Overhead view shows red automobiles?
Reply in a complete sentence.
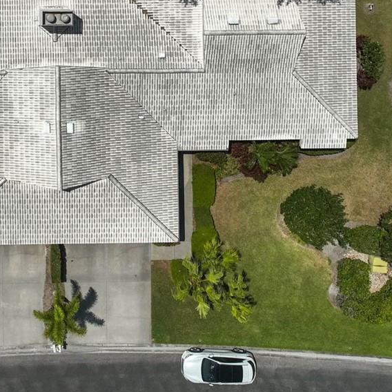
No, there's no red automobile here.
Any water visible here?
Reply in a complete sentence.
No, the scene doesn't show any water.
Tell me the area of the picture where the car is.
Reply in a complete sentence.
The car appears toward the bottom of the photo.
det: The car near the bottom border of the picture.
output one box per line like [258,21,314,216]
[178,343,260,388]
